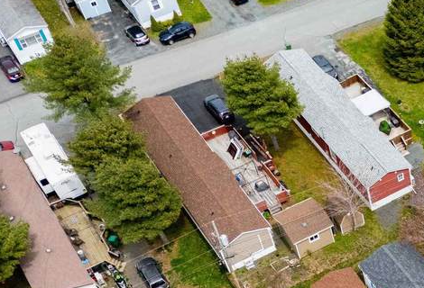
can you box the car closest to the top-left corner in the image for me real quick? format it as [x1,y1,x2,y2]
[0,55,26,83]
